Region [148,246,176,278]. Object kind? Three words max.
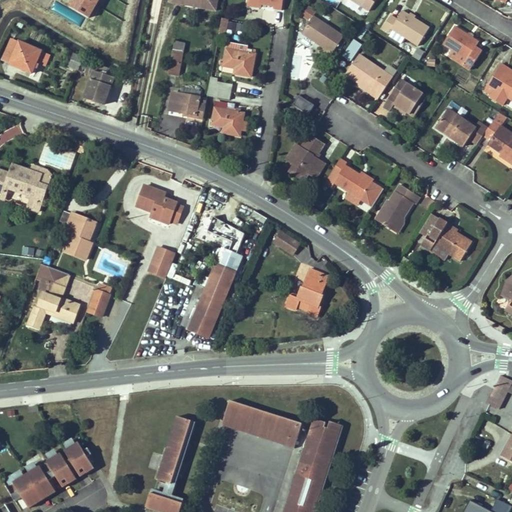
shed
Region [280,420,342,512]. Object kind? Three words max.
building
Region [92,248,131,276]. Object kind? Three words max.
swimming pool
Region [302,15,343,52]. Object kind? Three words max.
house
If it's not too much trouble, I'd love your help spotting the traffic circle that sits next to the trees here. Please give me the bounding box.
[336,270,496,442]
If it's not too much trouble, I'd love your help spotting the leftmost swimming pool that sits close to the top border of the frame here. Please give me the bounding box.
[50,0,88,28]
